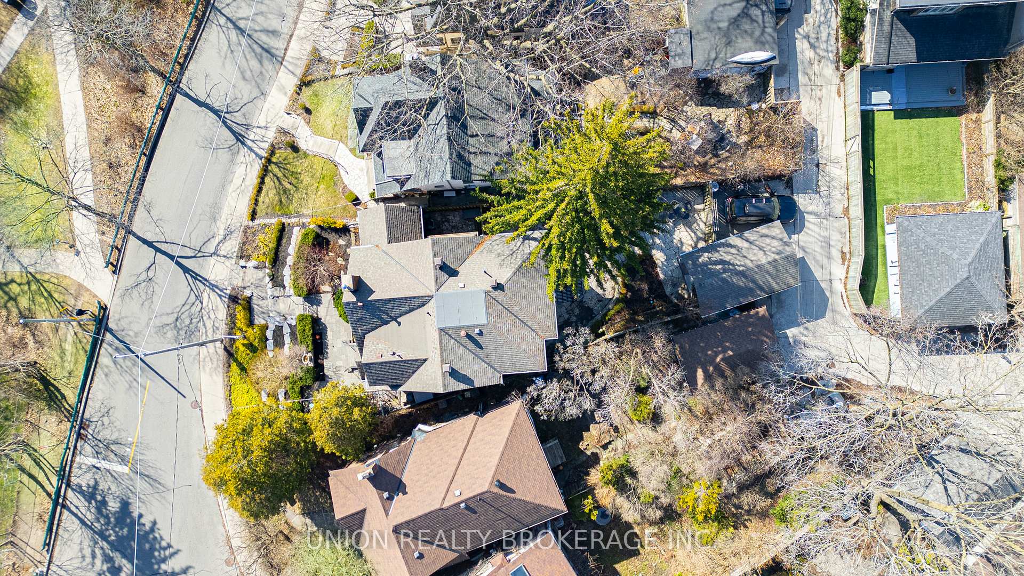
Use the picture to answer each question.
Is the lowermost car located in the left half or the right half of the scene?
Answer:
right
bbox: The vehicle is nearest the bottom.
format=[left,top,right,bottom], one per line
[727,190,803,225]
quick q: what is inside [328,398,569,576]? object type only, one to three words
house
